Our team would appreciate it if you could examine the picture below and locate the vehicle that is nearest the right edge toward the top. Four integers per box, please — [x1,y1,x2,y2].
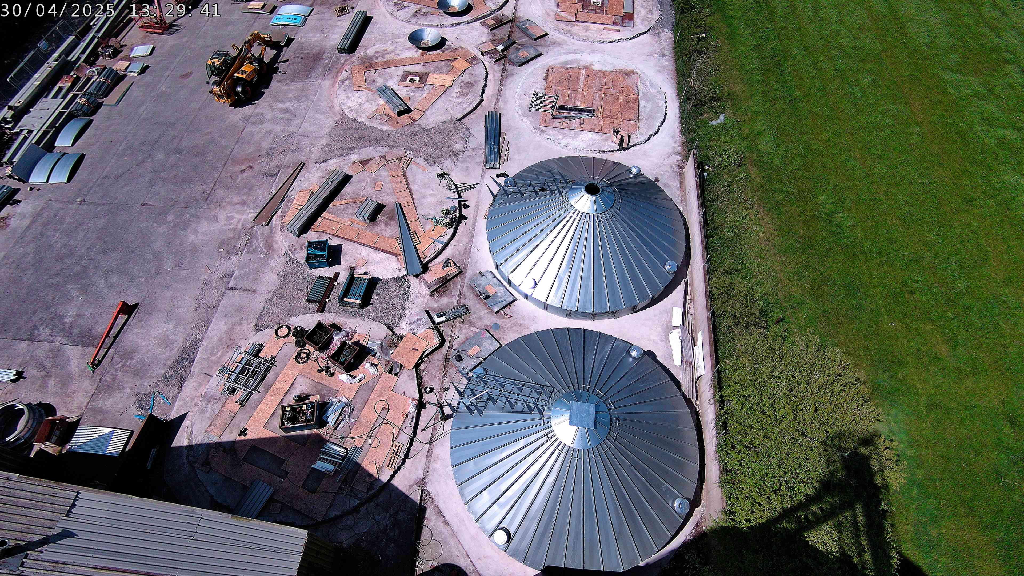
[200,34,281,103]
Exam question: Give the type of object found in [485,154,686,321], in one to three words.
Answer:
silo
